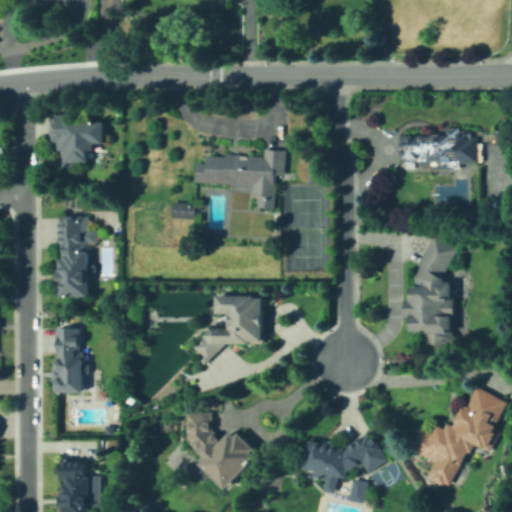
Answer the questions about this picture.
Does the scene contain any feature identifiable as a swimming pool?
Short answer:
Yes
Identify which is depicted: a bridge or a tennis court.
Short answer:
tennis court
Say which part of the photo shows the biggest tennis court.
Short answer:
center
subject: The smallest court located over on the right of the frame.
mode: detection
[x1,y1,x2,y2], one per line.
[374,462,404,488]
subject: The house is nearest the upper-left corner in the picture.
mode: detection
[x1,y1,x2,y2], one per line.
[48,114,102,167]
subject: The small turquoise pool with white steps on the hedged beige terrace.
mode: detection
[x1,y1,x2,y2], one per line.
[75,408,108,426]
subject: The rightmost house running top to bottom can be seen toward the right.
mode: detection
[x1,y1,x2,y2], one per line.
[407,237,455,350]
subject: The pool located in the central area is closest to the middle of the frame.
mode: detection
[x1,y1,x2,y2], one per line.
[210,195,226,230]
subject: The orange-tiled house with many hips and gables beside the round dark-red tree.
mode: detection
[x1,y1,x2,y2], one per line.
[416,388,507,490]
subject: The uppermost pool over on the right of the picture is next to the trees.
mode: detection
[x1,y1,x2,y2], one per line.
[436,179,469,203]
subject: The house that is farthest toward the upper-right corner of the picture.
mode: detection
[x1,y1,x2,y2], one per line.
[401,124,484,170]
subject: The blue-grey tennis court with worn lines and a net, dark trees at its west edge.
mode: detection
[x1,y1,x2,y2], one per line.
[284,184,330,272]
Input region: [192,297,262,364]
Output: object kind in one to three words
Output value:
house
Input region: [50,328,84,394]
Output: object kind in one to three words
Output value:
house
